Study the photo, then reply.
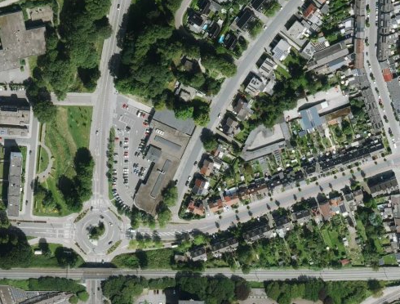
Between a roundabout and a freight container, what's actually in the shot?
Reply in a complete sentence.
Of the two, only a roundabout appears.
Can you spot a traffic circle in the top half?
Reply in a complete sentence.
No, the scene shows no traffic circle in the top half.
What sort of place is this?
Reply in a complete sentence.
The area seen from above is a residential area.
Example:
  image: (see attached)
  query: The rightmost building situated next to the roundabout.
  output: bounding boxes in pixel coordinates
[135,121,193,213]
